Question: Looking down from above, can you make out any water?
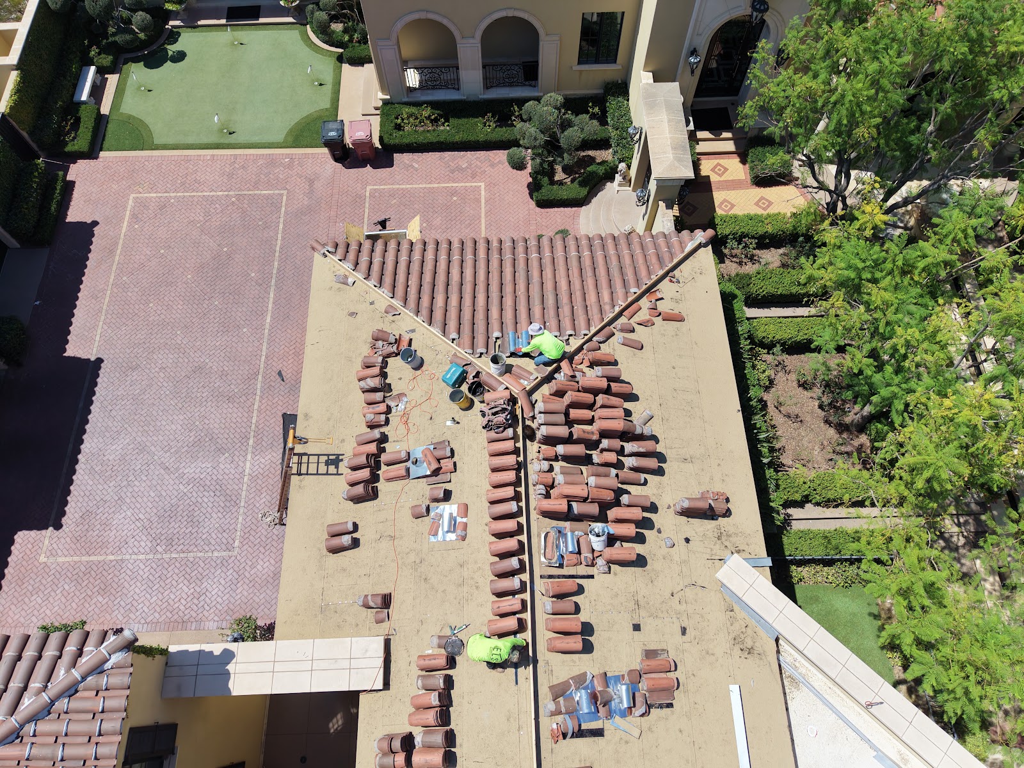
No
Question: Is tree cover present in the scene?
Yes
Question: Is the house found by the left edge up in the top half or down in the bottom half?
bottom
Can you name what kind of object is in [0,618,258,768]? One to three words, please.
house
